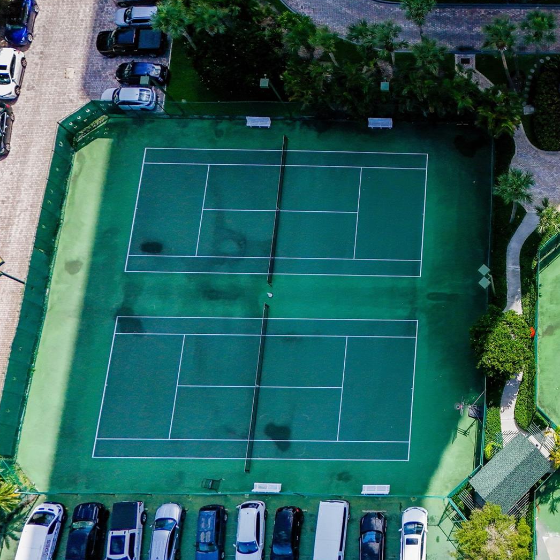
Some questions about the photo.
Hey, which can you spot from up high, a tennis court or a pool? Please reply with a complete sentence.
The one in the frame is a tennis court.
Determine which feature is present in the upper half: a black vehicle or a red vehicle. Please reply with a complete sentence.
It is a black vehicle that can be seen in the upper half.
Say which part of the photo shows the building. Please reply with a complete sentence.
The building appears toward the bottom right of the photo.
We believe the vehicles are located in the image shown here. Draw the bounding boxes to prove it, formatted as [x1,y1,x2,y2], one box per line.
[103,87,161,115]
[0,105,18,155]
[117,62,172,89]
[355,513,388,560]
[11,0,44,43]
[0,49,29,99]
[110,502,150,560]
[233,502,270,560]
[269,508,305,560]
[398,508,429,560]
[194,505,230,560]
[116,4,167,31]
[67,505,110,560]
[314,500,351,560]
[113,0,167,9]
[99,29,169,60]
[11,502,70,560]
[149,503,187,560]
